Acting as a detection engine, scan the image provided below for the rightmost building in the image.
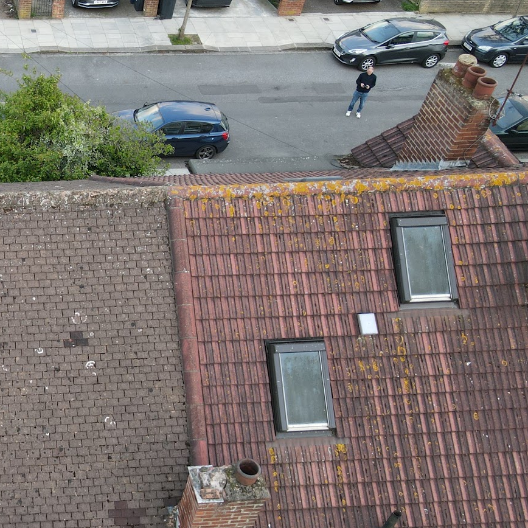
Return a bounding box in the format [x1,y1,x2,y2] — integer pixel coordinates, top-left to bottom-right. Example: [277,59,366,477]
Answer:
[98,54,528,528]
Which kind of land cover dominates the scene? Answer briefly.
buildings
